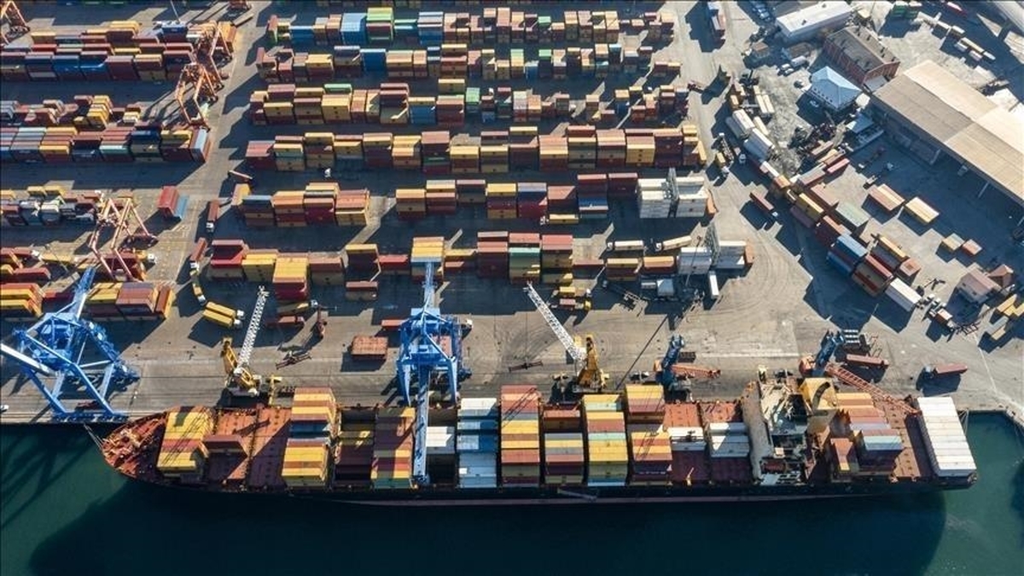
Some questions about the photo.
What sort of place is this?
port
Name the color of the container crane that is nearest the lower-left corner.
blue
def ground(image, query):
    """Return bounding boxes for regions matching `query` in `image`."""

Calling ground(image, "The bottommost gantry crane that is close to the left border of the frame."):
[0,260,134,416]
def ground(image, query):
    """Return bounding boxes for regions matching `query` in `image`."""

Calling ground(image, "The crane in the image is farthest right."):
[793,328,925,417]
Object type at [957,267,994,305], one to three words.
building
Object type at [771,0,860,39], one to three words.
building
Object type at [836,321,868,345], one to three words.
work vehicle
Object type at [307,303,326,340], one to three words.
work vehicle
